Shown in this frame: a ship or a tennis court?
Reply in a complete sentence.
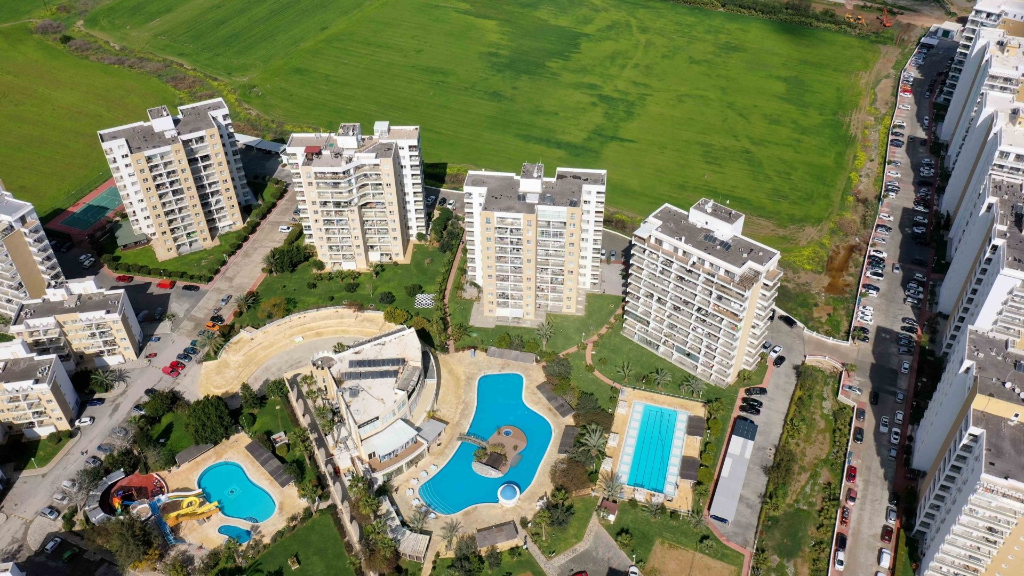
This aerial view contains a tennis court.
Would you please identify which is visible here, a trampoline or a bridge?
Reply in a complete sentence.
Of the two, only a bridge appears.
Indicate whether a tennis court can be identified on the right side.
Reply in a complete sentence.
No, there's no tennis court to be seen on the right side.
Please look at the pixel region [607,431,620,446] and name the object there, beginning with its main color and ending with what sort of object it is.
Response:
white gazebo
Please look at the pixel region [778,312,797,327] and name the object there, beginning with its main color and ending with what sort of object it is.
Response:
black vehicle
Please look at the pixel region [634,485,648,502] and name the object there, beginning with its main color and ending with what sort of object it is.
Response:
white gazebo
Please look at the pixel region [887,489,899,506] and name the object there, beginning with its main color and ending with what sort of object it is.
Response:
black vehicle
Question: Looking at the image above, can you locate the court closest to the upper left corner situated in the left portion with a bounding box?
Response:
[52,175,128,244]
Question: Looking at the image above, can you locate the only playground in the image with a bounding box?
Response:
[109,473,165,515]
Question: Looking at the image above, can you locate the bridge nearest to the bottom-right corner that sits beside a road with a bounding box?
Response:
[804,329,849,373]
